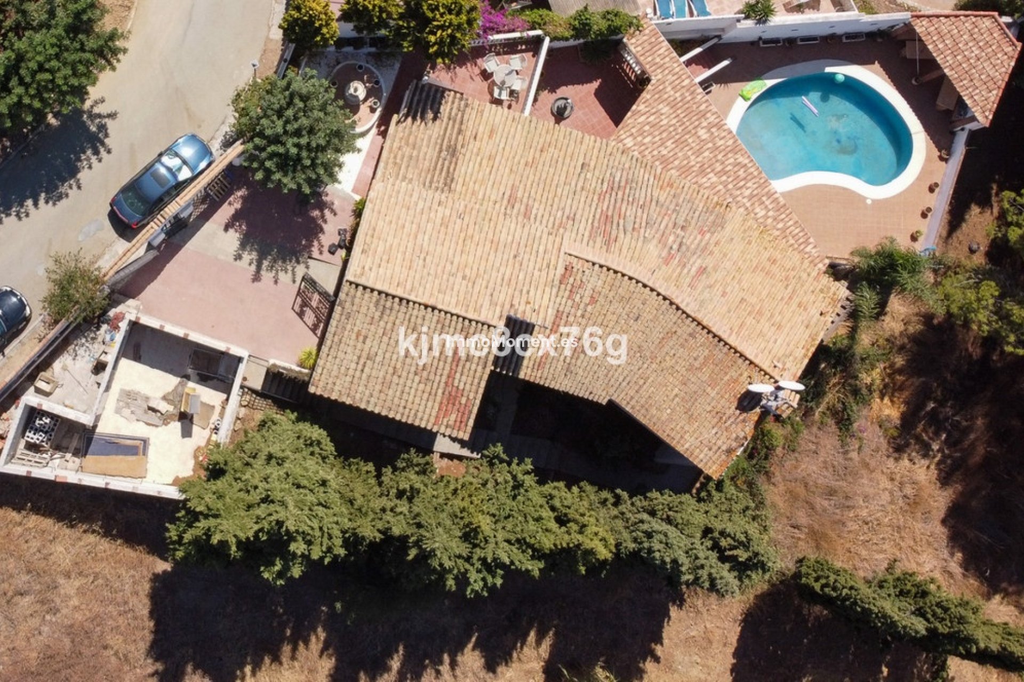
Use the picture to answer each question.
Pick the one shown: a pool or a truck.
pool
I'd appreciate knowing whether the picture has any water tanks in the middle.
No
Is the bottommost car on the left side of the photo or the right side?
left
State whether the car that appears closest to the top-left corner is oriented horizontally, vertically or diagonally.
diagonally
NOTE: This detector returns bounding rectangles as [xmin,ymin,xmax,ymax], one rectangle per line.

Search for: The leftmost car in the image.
[0,281,33,342]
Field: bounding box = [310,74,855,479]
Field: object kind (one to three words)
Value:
house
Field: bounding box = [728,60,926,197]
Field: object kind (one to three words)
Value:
swimming pool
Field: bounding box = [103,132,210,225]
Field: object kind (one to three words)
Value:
car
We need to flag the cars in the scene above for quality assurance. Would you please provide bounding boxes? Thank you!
[0,281,33,342]
[103,132,210,225]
